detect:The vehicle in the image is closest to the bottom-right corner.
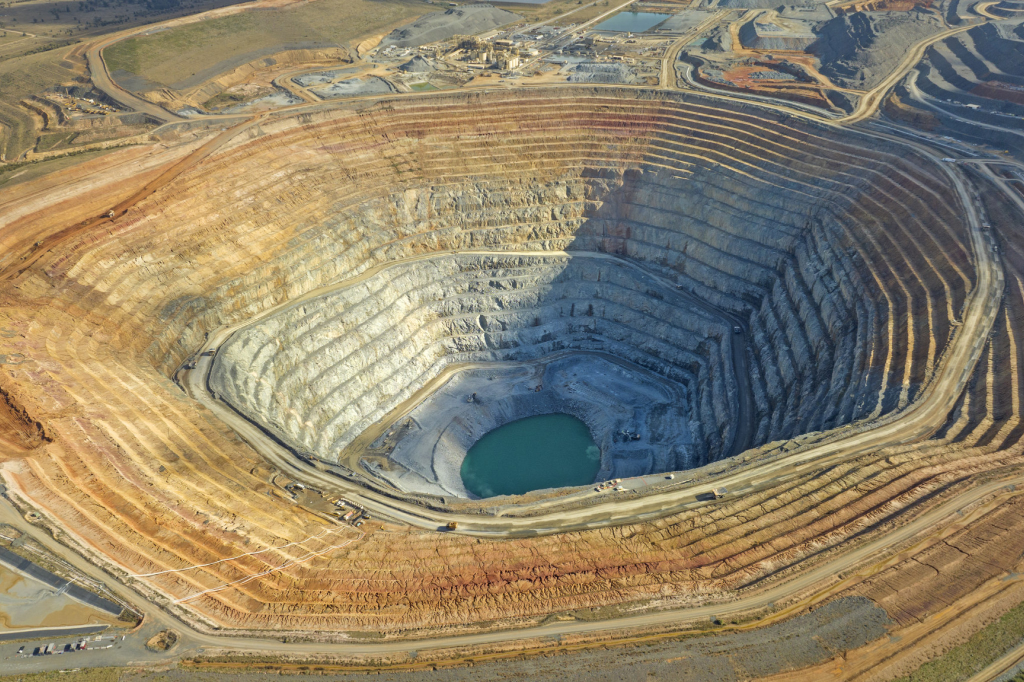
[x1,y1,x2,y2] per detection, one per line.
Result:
[711,489,729,502]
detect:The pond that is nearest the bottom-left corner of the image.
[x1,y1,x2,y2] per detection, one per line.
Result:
[0,557,116,639]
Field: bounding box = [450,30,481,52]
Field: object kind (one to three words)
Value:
building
